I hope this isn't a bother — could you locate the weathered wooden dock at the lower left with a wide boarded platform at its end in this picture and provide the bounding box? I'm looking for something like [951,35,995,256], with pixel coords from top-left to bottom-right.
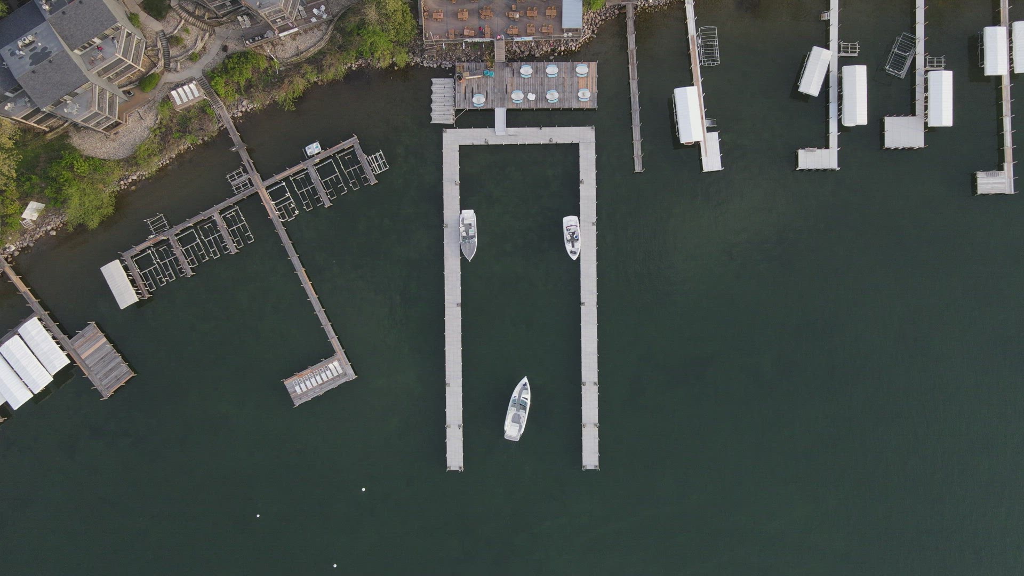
[0,255,138,398]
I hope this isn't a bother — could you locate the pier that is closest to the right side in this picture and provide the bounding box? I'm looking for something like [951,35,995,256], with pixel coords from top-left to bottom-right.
[973,0,1018,195]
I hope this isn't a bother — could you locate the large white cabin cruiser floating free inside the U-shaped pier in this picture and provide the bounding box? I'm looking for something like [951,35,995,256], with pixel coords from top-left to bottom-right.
[504,375,530,441]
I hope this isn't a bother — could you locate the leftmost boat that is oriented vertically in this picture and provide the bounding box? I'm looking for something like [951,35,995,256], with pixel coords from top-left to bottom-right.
[459,210,477,262]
